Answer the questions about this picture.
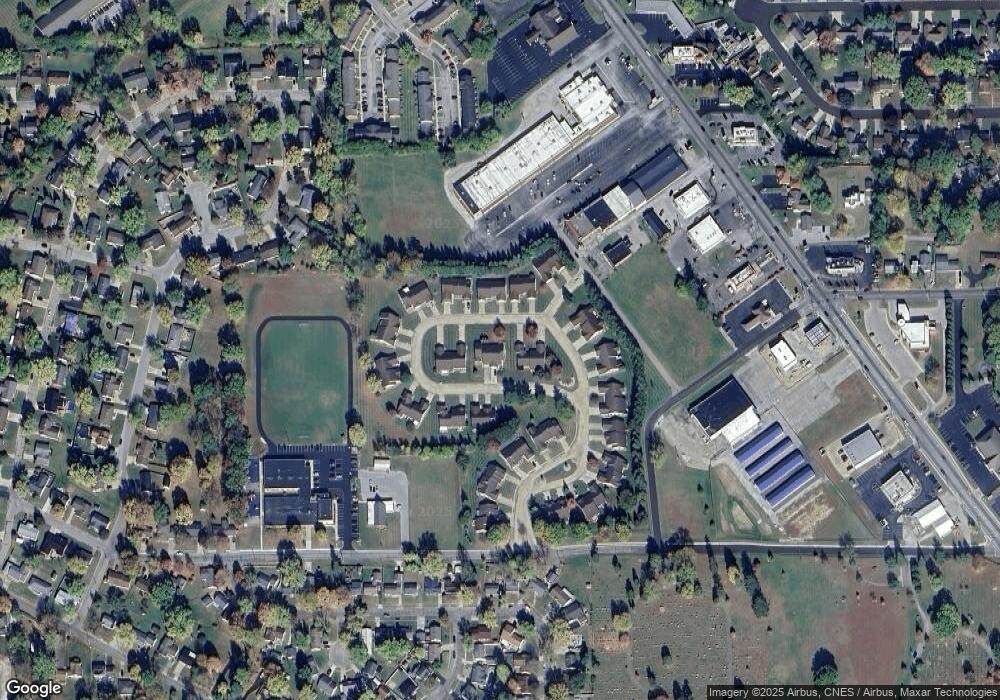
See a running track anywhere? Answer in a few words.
Yes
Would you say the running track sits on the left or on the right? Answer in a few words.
left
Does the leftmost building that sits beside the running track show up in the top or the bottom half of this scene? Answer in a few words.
bottom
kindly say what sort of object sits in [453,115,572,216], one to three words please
building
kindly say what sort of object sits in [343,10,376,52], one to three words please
building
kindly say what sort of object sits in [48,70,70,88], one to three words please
house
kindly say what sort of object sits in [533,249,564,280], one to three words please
house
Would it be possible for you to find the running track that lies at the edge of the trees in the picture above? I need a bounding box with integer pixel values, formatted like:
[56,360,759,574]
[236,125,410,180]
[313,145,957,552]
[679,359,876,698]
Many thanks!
[256,315,353,444]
